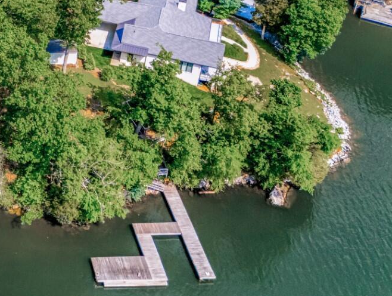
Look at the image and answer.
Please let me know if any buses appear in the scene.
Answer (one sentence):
No, there appears to be no bus in this shot.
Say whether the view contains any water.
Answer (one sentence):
Yes, water shows up in the scene.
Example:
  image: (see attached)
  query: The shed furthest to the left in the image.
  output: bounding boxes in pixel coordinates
[49,40,79,64]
